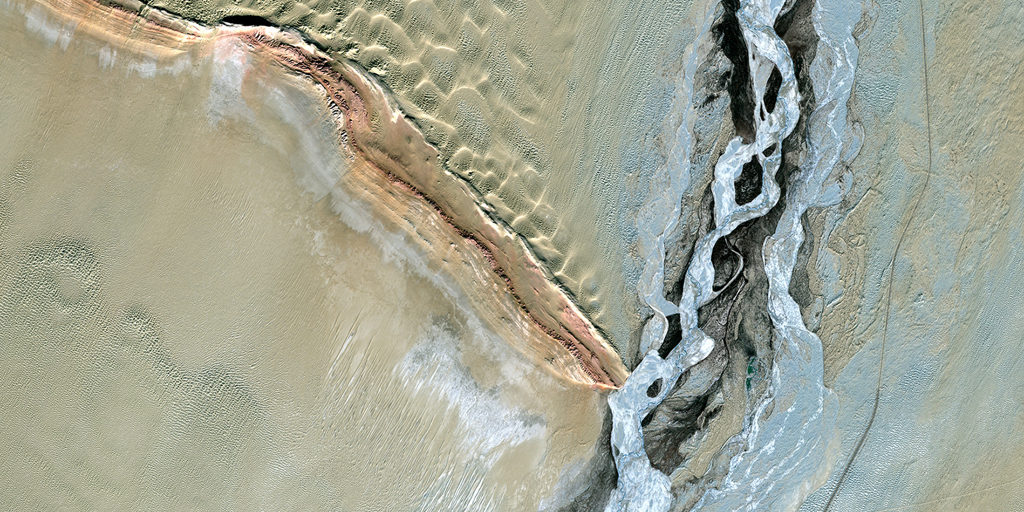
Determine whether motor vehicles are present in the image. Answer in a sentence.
No, this view has no motor vehicle in it.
